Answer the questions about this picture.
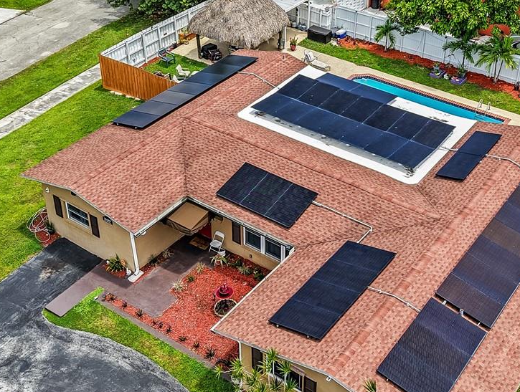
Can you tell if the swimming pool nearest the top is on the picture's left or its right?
right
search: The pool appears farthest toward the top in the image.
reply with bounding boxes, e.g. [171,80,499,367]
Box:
[350,74,505,123]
